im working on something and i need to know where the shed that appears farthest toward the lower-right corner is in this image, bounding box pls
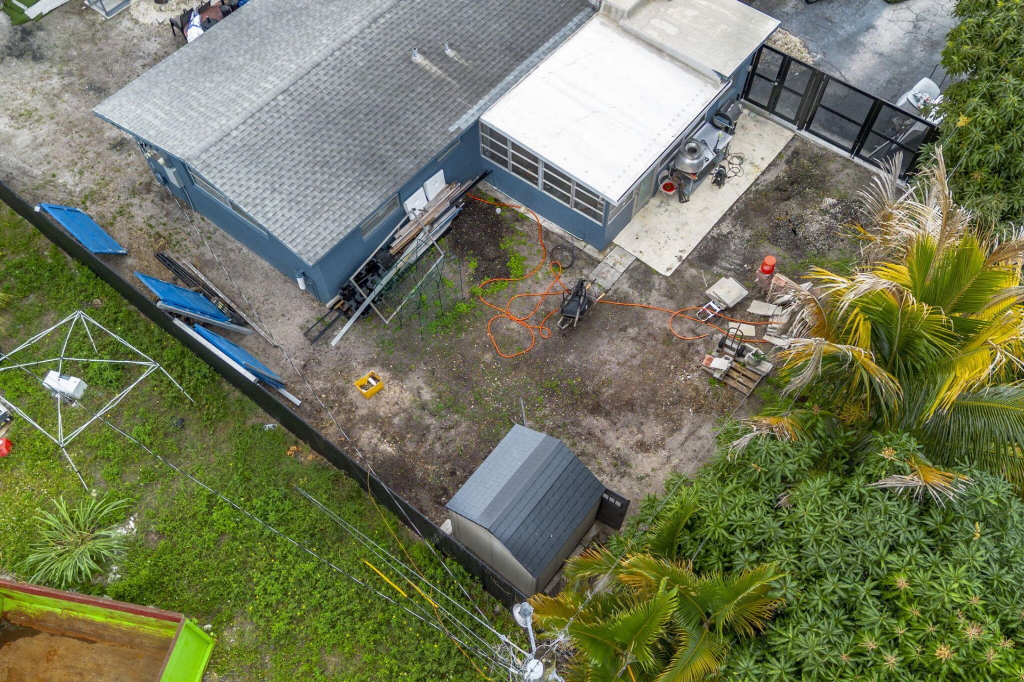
[444,425,629,597]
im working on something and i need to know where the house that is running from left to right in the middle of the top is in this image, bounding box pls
[90,0,784,308]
